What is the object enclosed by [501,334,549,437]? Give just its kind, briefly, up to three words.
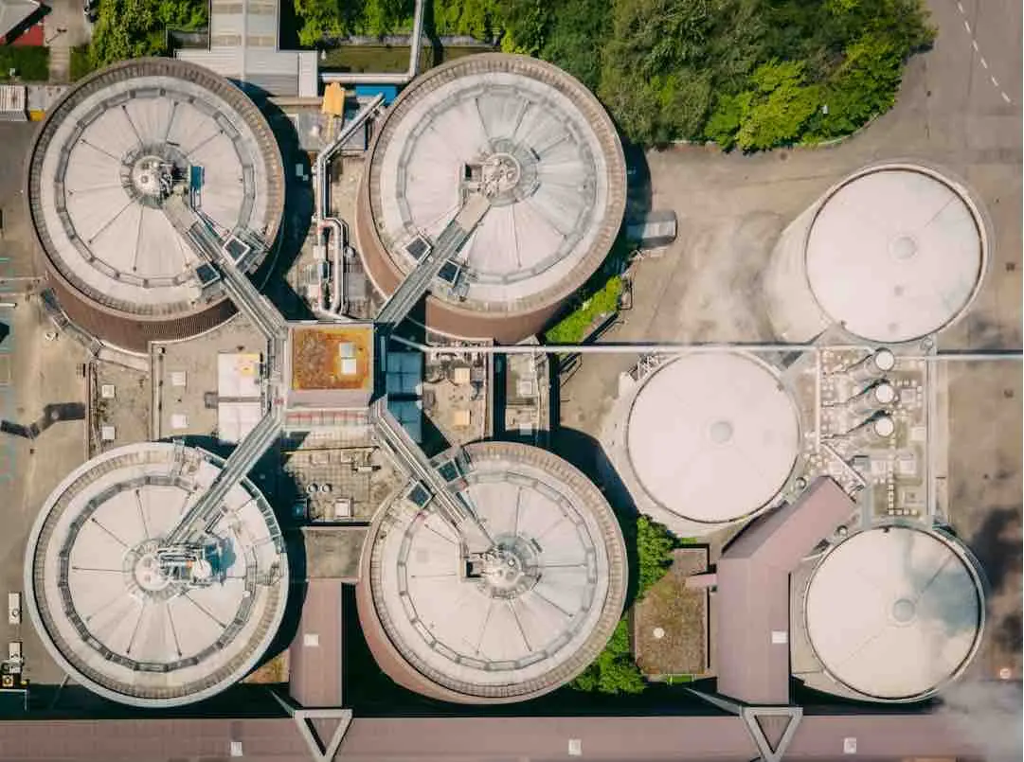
building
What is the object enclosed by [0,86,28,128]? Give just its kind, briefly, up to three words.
shed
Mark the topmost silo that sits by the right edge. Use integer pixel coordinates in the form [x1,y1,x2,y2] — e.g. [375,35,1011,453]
[767,162,988,350]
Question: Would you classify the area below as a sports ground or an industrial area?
industrial area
